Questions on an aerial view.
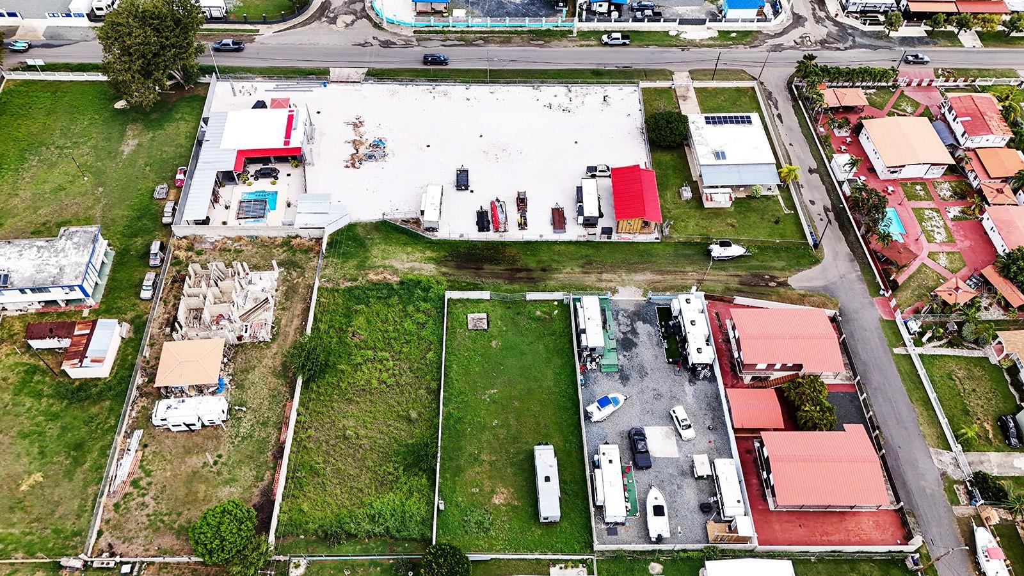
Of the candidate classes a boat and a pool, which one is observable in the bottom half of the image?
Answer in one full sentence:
Looking in the bottom half of the image, you will find a boat.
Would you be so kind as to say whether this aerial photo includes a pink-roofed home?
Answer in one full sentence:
Yes, there's a pink-roofed home here.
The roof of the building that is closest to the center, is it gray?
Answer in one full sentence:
No, the roof of the building that is closest to the center is actually red.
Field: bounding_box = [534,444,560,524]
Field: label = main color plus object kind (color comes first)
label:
white camper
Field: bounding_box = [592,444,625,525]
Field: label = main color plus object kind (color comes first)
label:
white camper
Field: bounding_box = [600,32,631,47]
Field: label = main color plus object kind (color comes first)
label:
white vehicle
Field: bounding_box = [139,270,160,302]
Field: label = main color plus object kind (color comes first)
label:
white car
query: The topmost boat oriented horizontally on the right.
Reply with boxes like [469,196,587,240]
[706,242,751,258]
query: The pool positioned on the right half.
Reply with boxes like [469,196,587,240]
[879,206,908,242]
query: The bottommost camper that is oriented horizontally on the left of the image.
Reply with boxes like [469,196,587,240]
[153,395,233,431]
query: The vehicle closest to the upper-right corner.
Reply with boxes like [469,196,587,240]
[902,52,932,66]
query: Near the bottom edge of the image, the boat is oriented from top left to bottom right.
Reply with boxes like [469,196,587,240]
[977,525,1016,576]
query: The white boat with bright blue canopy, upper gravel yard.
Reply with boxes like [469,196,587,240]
[583,394,625,425]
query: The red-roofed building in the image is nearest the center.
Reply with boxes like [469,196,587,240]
[612,162,661,234]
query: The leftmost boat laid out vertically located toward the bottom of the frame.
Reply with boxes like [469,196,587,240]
[645,486,670,542]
